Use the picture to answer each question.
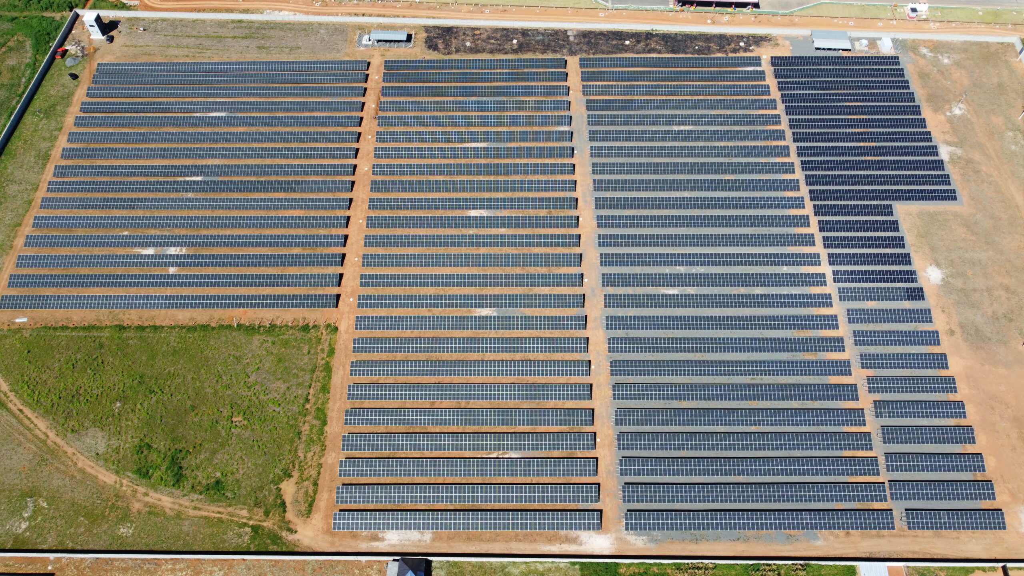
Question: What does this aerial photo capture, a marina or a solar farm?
solar farm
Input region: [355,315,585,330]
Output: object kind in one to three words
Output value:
solar array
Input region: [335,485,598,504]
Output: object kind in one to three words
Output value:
solar array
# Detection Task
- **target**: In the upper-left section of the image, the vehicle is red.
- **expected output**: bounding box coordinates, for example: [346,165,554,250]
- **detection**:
[55,44,68,58]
